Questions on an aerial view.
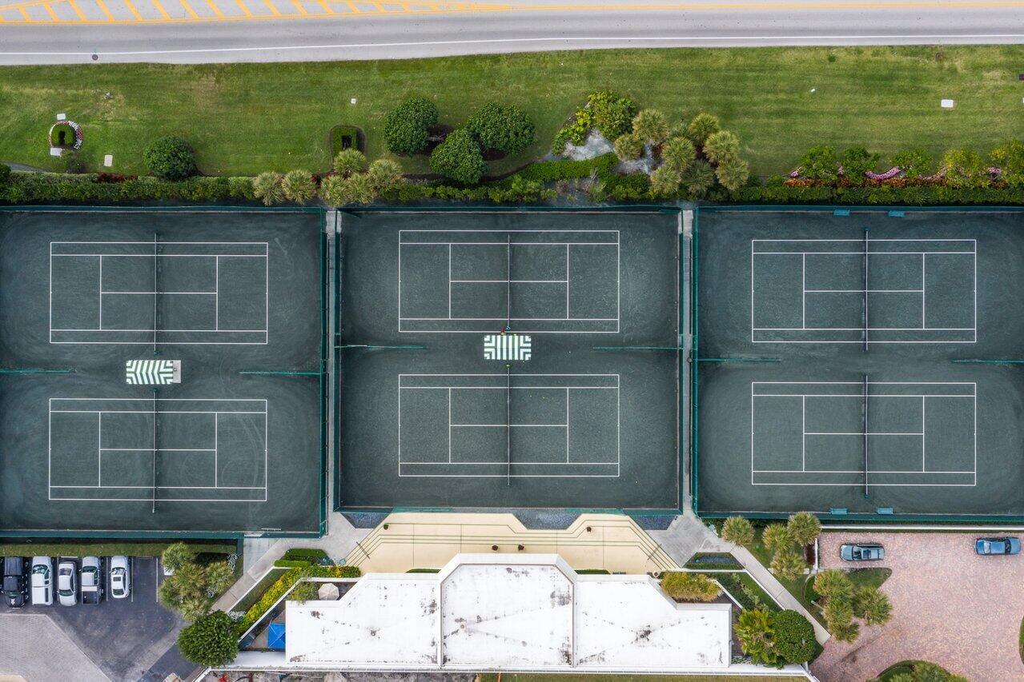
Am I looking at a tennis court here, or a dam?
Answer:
tennis court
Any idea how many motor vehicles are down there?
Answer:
7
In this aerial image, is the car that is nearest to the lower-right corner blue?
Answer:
Yes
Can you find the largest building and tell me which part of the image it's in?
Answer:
bottom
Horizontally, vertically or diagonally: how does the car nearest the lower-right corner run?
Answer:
horizontally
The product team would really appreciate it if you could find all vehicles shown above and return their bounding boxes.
[109,555,133,599]
[30,555,57,609]
[2,556,29,608]
[972,536,1019,558]
[58,561,82,606]
[80,555,106,606]
[838,542,885,565]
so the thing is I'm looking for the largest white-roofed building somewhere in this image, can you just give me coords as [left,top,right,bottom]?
[285,554,733,668]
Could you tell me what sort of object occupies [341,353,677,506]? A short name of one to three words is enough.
tennis court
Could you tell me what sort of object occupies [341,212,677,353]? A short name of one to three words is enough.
tennis court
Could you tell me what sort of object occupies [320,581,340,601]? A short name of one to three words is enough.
umbrella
